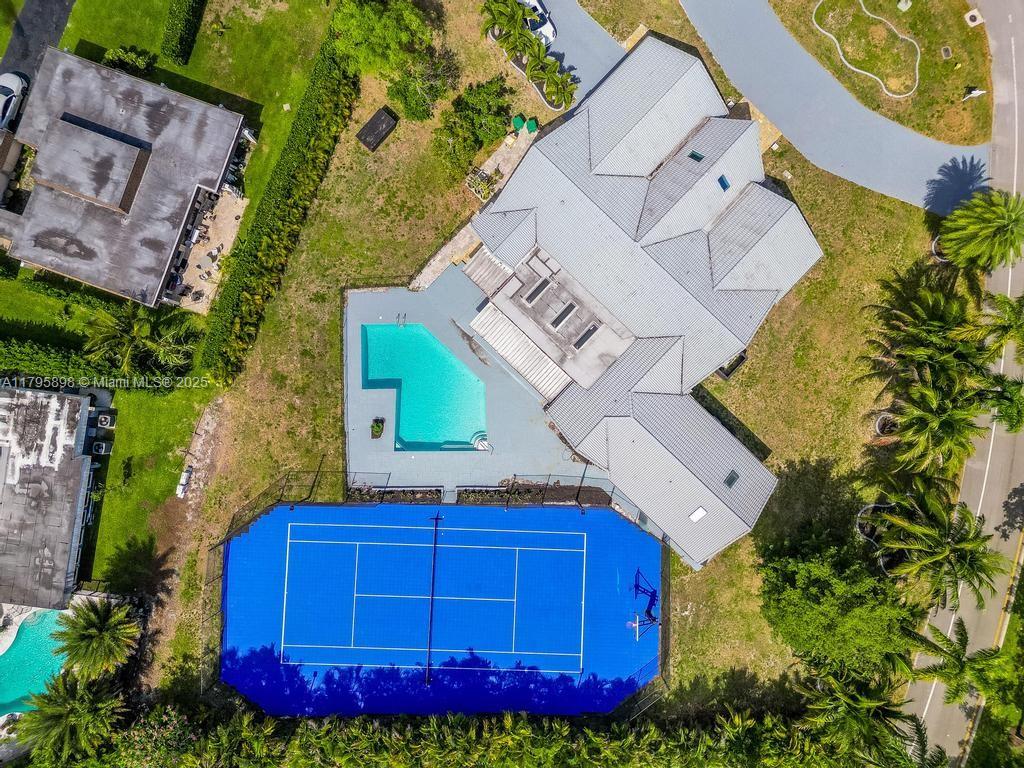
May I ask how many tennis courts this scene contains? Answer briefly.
one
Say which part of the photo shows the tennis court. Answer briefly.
bottom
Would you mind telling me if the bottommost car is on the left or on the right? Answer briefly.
left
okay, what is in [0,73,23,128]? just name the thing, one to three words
car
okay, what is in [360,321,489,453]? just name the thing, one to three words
swimming pool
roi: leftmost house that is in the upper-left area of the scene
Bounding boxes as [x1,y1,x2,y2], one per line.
[0,46,245,307]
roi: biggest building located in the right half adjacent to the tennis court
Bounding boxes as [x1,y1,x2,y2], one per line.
[463,38,823,566]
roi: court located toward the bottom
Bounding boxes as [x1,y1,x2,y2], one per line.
[218,504,663,720]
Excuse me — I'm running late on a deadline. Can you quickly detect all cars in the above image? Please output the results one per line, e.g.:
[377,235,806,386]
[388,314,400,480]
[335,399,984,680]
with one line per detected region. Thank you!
[0,73,23,128]
[518,0,552,43]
